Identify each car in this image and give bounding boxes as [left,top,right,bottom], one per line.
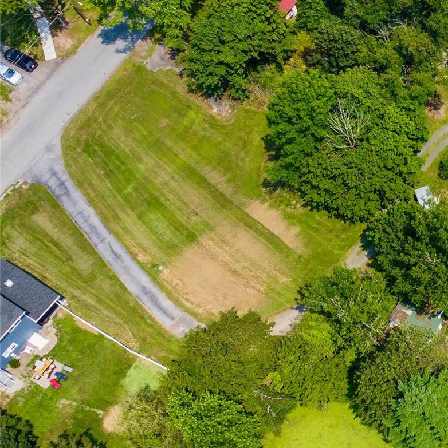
[0,45,42,74]
[0,64,29,88]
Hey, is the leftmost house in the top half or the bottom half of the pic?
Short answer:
bottom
